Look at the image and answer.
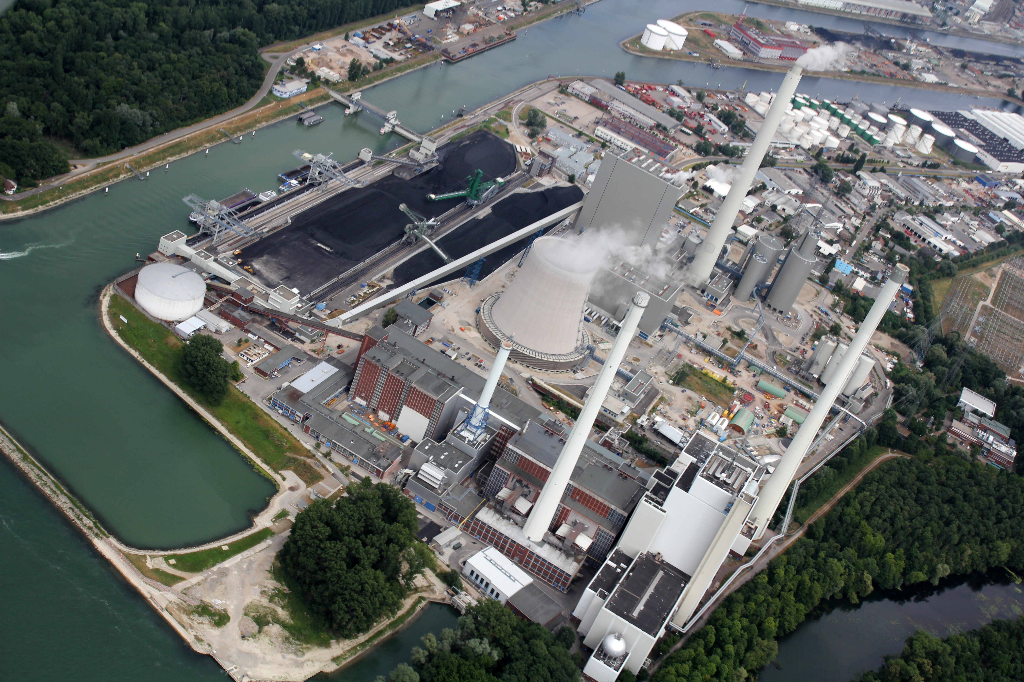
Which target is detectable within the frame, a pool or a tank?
tank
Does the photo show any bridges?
Yes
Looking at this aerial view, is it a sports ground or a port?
port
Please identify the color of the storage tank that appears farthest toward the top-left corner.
white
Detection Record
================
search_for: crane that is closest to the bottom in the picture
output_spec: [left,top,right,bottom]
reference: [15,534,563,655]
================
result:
[184,194,257,243]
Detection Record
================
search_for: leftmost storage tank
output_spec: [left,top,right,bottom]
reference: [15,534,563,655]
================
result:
[133,262,206,320]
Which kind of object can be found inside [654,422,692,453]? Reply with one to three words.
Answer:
shed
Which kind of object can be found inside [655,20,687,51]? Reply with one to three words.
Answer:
storage tank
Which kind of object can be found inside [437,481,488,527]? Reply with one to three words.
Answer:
building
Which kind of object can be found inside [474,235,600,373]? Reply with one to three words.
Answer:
cooling tower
